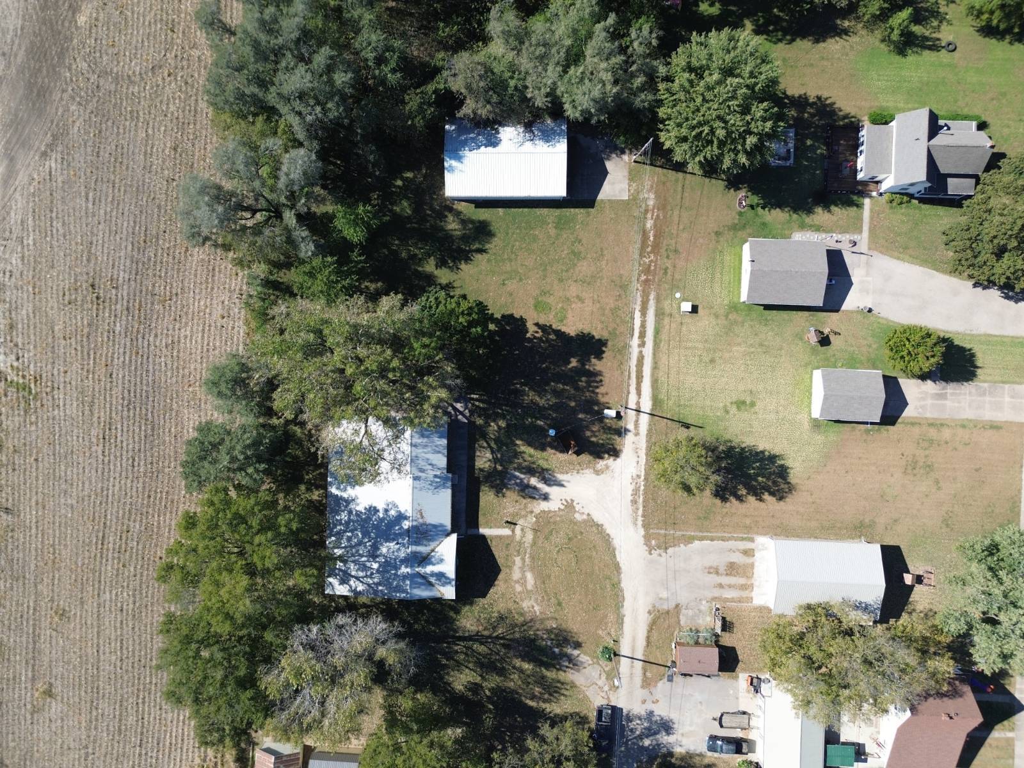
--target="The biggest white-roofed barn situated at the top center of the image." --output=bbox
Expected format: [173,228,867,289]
[443,118,568,201]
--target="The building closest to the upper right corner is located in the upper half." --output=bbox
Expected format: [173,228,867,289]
[857,108,994,198]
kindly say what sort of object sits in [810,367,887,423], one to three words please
building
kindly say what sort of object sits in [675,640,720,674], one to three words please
shed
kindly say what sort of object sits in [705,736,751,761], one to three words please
truck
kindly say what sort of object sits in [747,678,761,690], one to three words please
vehicle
